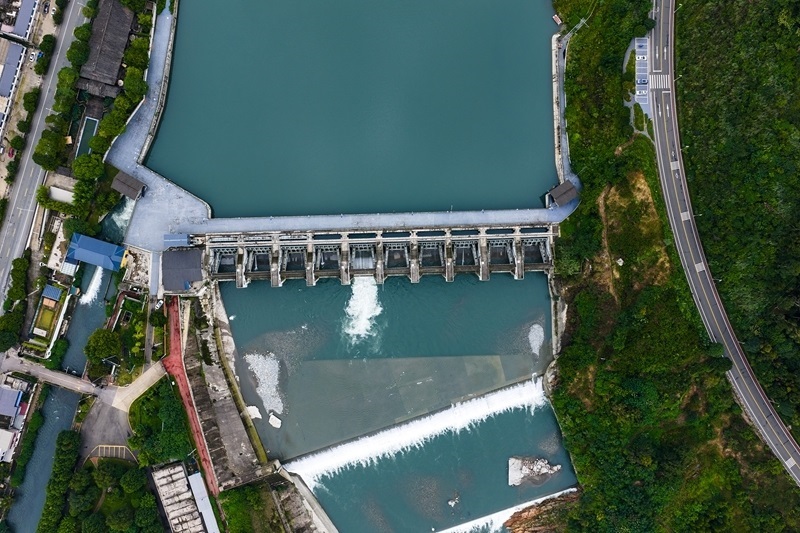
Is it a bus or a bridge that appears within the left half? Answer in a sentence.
It is a bridge that can be seen within the left half.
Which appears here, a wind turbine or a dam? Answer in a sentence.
Looking from above, you can make out a dam.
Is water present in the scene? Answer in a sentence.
Yes, some water is visible.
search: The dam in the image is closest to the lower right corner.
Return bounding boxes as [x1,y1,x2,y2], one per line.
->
[434,488,575,533]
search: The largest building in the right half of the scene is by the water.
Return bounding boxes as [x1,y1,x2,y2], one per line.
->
[548,180,579,206]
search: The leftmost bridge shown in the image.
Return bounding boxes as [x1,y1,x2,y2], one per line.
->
[15,356,93,395]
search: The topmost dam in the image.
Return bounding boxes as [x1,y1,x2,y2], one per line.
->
[191,208,562,288]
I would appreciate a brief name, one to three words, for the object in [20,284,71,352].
house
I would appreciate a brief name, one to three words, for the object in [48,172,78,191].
house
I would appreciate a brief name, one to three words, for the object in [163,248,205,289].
building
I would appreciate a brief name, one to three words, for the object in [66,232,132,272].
building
